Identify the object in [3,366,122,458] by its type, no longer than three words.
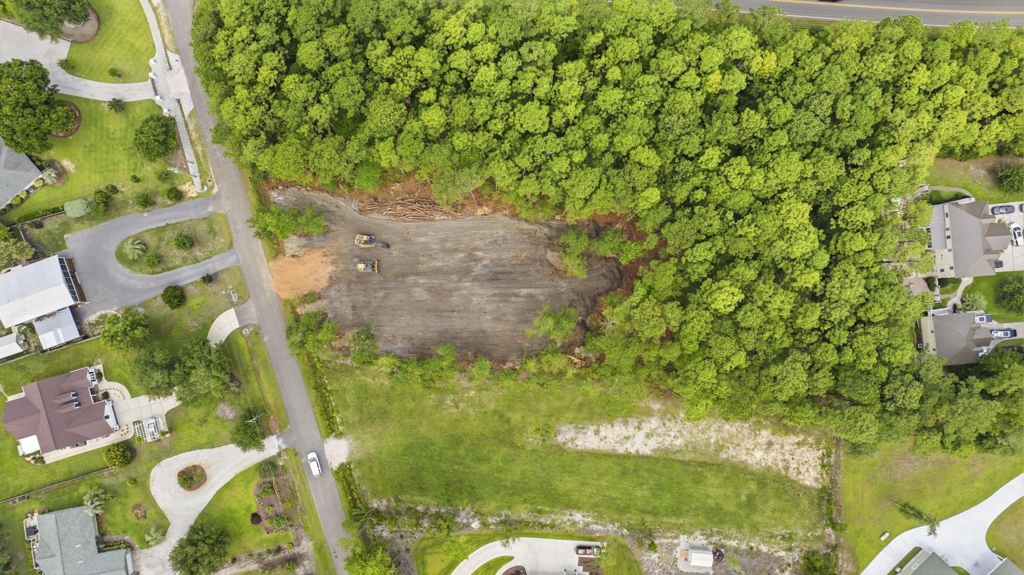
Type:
house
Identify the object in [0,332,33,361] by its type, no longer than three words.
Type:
shed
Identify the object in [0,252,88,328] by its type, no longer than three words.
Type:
barn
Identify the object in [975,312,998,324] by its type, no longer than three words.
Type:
vehicle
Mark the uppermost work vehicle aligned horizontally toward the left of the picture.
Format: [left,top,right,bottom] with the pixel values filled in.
[357,234,390,249]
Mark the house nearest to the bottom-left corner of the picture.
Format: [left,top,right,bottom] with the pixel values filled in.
[20,503,136,575]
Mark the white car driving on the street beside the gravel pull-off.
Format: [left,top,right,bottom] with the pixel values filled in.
[306,450,322,478]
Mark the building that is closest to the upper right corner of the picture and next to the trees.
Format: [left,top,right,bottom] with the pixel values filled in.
[923,197,1013,277]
